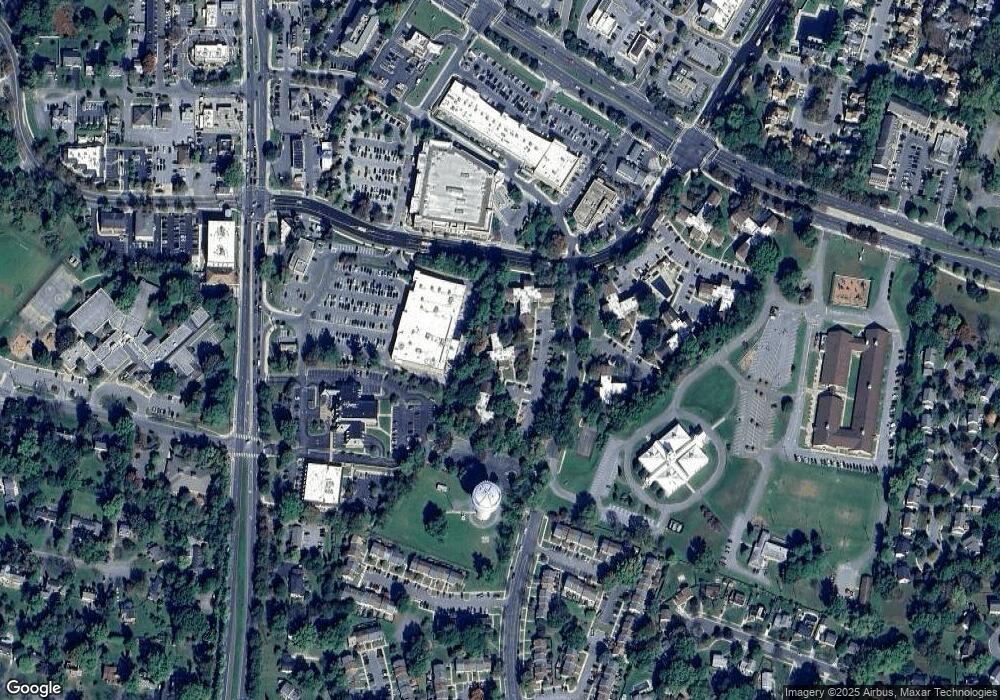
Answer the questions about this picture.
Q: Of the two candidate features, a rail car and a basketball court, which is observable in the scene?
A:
basketball court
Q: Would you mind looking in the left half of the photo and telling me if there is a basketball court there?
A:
Yes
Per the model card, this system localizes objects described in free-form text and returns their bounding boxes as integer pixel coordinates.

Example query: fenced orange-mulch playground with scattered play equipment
[831,276,870,306]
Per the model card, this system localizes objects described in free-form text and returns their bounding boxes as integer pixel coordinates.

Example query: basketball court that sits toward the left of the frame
[19,264,81,327]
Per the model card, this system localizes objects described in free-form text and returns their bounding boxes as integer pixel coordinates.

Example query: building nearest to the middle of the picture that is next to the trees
[472,323,515,374]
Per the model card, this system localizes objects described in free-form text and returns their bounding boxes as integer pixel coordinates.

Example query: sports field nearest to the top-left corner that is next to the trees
[0,229,62,332]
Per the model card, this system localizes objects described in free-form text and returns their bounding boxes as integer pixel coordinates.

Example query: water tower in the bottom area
[470,478,500,521]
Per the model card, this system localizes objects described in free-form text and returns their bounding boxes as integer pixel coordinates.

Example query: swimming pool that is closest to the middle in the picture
[649,263,679,301]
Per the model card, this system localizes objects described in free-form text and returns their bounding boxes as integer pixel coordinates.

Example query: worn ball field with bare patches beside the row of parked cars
[756,461,885,562]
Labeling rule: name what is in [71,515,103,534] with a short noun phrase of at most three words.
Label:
house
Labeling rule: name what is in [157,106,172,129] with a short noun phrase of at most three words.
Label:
building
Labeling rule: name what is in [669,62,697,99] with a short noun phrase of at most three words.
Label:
building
